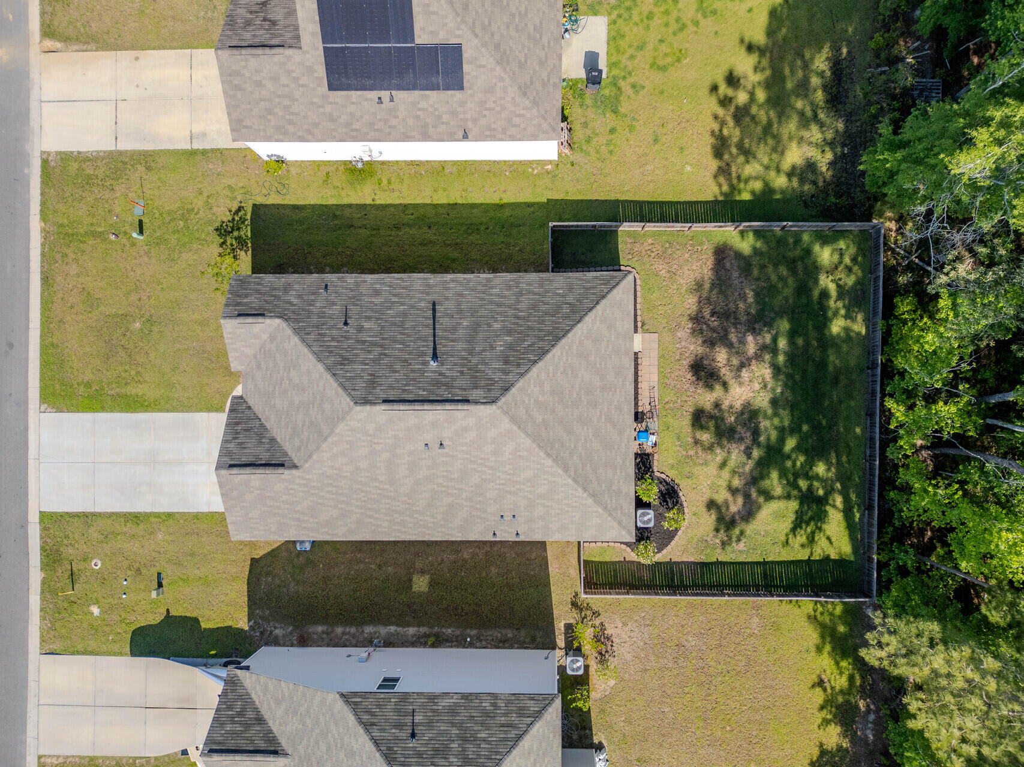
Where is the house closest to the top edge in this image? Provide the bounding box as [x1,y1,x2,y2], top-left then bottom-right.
[215,0,564,160]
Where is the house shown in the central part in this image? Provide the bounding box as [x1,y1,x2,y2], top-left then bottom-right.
[215,272,637,543]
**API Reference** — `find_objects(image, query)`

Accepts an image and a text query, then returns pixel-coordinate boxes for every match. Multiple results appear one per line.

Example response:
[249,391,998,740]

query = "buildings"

[215,272,637,543]
[215,0,564,160]
[200,649,563,767]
